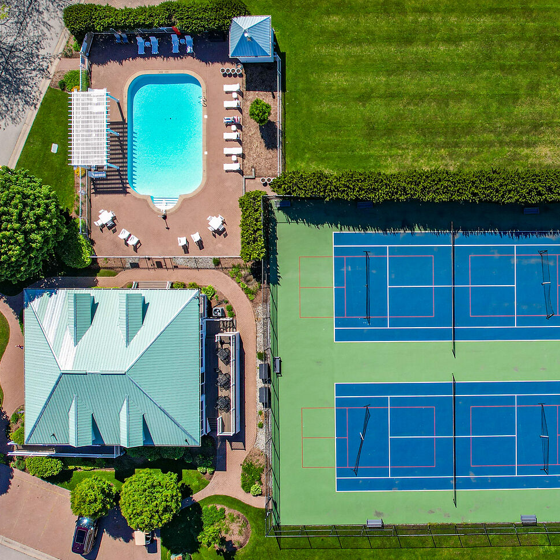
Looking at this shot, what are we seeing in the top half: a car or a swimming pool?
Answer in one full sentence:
The feature located in the top half is a swimming pool.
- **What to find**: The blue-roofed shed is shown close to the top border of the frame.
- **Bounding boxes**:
[229,15,273,62]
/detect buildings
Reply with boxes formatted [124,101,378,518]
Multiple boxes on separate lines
[229,15,273,62]
[21,286,214,450]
